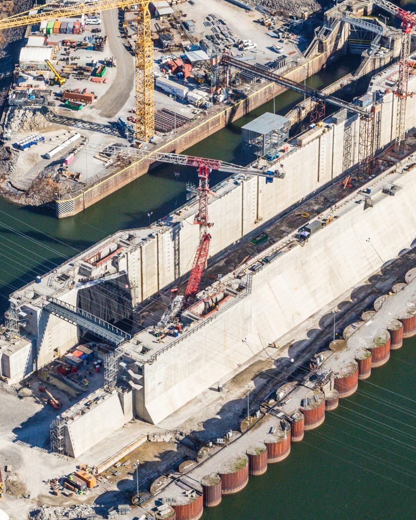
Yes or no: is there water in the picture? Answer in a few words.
Yes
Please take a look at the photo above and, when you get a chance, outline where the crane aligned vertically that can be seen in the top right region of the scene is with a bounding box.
[337,0,416,152]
